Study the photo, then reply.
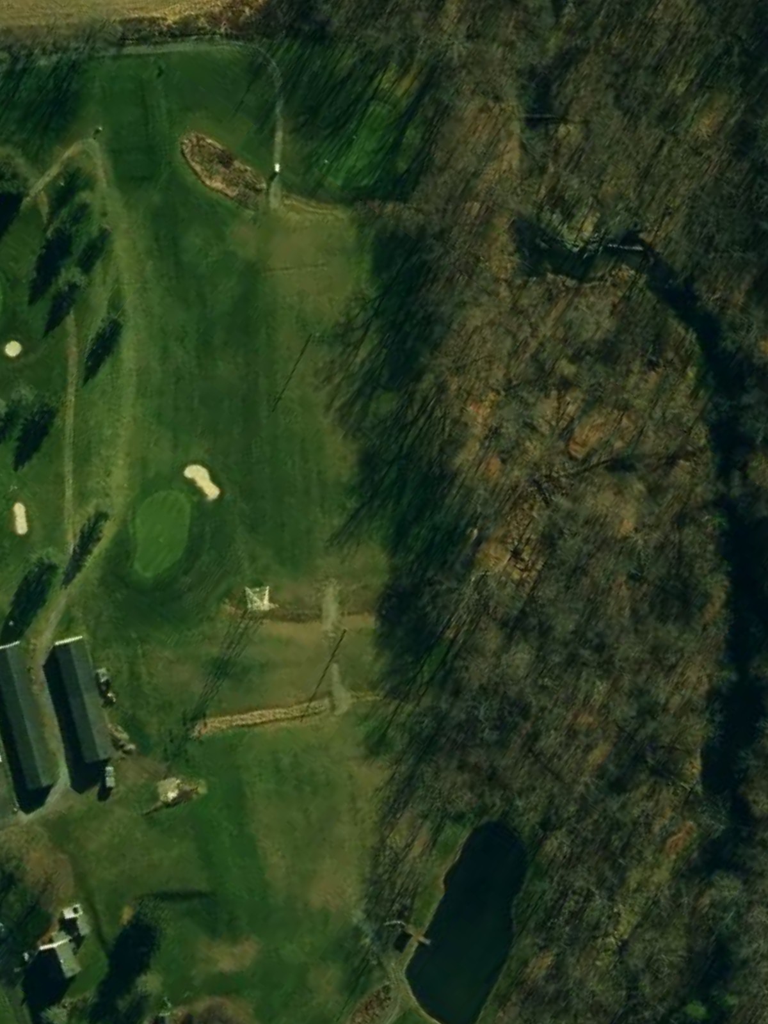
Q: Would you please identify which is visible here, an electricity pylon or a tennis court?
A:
electricity pylon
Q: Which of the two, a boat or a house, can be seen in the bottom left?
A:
house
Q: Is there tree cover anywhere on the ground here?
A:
Yes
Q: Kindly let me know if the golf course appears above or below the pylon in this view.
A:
above it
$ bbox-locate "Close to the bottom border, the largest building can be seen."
[42,929,84,981]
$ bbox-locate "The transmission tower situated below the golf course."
[244,585,275,612]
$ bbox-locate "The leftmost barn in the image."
[0,646,59,793]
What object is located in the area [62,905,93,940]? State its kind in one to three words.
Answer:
house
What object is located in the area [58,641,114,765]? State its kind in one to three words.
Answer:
barn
